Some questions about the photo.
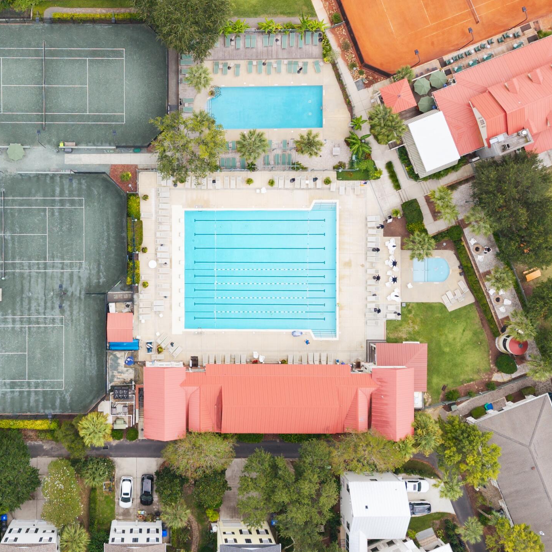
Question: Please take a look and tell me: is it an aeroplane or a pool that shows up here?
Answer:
pool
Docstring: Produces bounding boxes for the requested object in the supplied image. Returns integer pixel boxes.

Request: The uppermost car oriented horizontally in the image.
[401,479,433,495]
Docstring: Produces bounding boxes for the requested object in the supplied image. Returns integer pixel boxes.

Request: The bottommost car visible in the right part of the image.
[408,502,434,518]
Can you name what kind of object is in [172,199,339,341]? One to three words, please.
swimming pool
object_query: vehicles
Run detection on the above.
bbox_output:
[408,502,434,518]
[139,473,155,506]
[118,476,134,508]
[401,479,433,495]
